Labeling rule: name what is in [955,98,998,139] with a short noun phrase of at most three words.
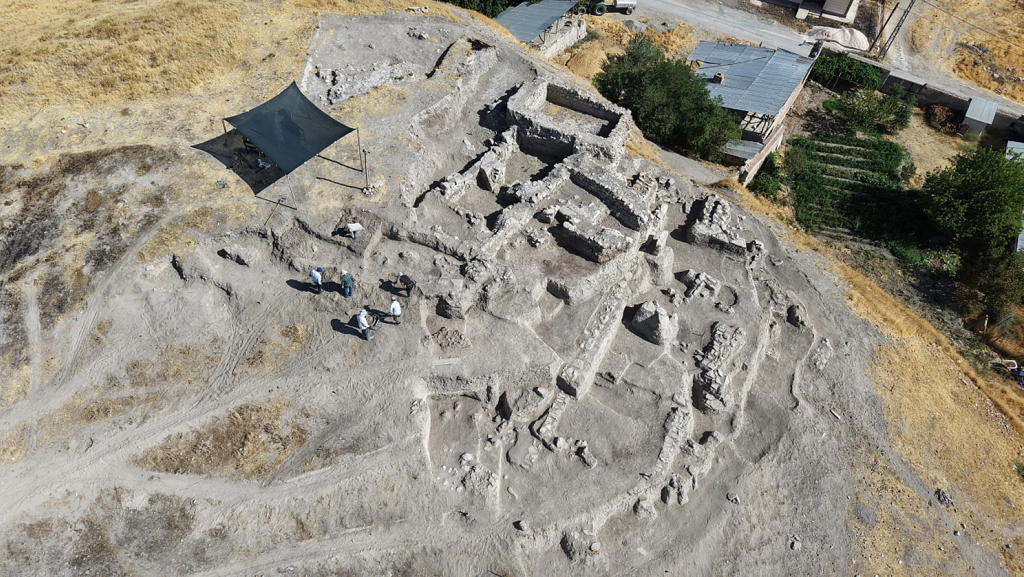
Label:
shed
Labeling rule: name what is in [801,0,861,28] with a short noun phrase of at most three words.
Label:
house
